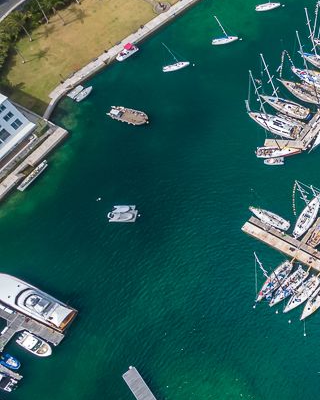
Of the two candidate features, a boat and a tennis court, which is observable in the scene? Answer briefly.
boat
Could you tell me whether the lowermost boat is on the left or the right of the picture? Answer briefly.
left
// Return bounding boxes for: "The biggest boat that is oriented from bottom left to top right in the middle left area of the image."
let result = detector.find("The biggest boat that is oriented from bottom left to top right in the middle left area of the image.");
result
[18,163,47,193]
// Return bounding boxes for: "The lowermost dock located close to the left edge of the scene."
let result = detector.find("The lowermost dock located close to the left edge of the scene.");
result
[0,309,65,381]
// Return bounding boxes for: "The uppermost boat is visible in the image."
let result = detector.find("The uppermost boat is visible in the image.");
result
[257,0,280,13]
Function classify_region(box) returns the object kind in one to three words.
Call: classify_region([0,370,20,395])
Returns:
boat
